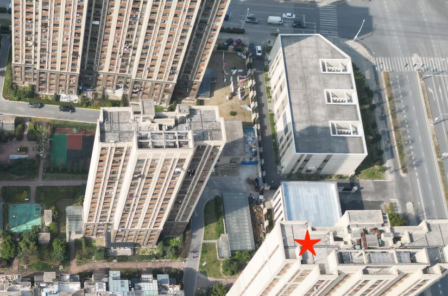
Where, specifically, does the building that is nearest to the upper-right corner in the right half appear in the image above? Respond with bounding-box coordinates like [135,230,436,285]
[268,35,367,175]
